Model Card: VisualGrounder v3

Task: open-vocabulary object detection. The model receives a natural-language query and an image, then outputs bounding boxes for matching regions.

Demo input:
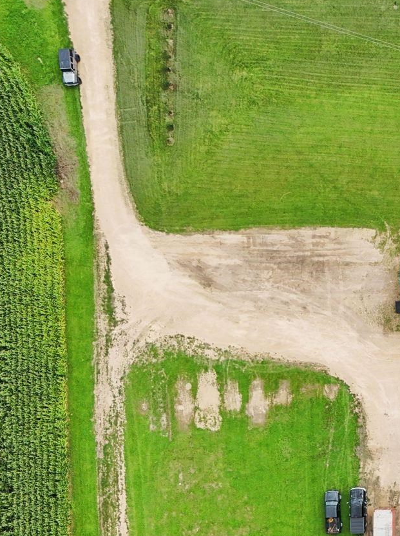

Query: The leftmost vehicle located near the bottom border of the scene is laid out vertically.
[325,488,343,535]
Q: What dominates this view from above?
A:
grass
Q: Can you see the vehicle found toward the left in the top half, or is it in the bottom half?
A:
top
